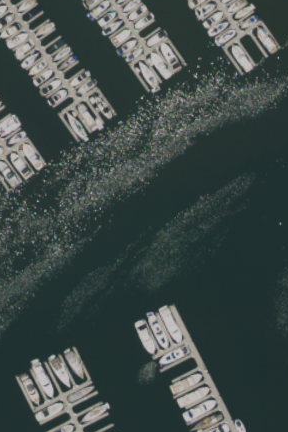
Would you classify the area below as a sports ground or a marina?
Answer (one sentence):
The picture captures a marina.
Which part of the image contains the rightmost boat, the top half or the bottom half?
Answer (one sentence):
You can find the rightmost boat in the top half.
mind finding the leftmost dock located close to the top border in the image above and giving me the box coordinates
[0,0,116,139]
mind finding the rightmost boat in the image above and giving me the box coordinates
[258,29,279,56]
